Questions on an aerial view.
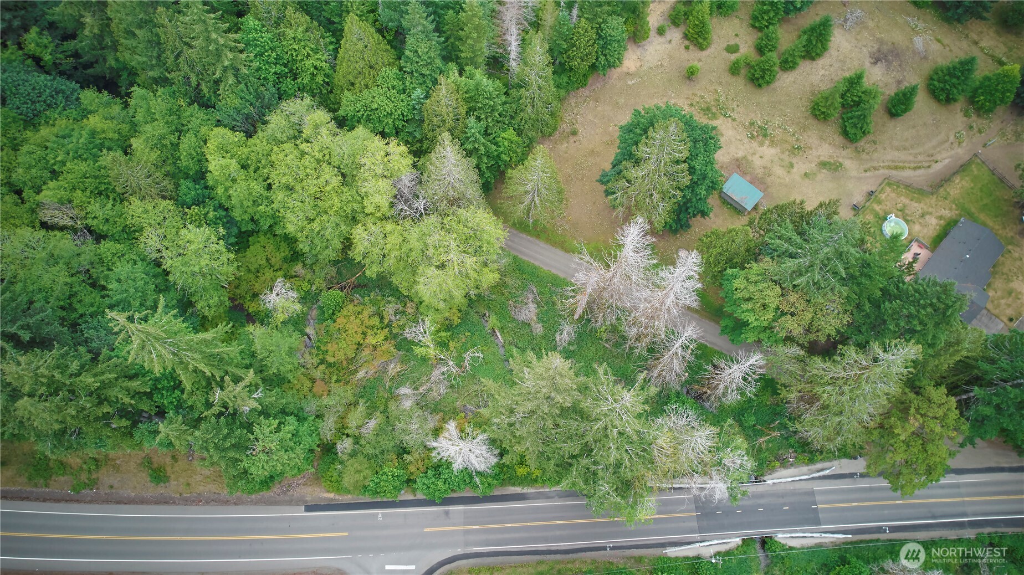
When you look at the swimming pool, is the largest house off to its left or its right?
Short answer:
right of it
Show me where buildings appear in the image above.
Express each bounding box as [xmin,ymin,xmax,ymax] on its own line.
[915,217,1006,324]
[721,173,763,214]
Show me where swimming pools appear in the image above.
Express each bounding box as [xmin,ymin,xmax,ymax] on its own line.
[879,215,909,241]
